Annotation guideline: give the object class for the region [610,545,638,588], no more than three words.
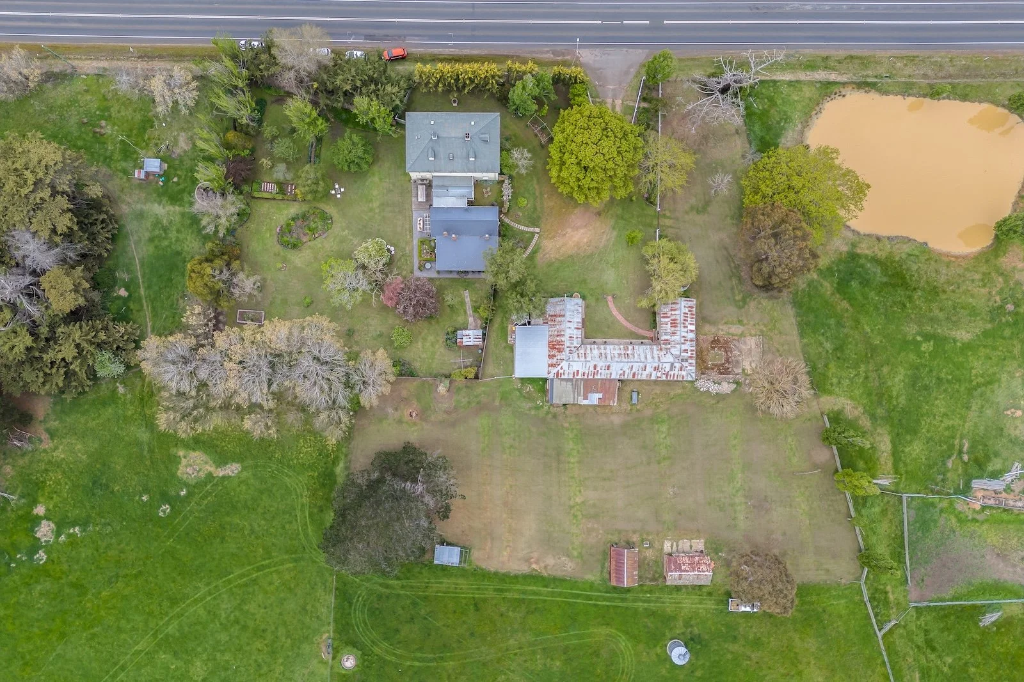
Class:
shed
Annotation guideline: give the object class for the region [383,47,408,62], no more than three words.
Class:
car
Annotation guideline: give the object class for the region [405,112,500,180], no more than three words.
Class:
house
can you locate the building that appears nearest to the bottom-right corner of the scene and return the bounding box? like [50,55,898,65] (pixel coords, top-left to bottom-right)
[665,553,713,585]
